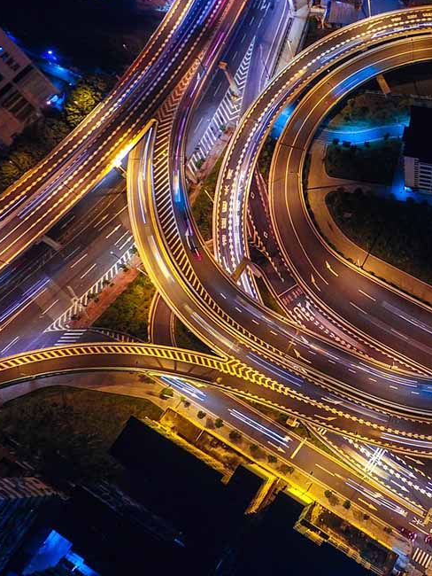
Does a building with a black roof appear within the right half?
Yes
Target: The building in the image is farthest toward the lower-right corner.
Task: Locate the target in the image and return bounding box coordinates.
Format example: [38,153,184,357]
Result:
[264,489,387,576]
